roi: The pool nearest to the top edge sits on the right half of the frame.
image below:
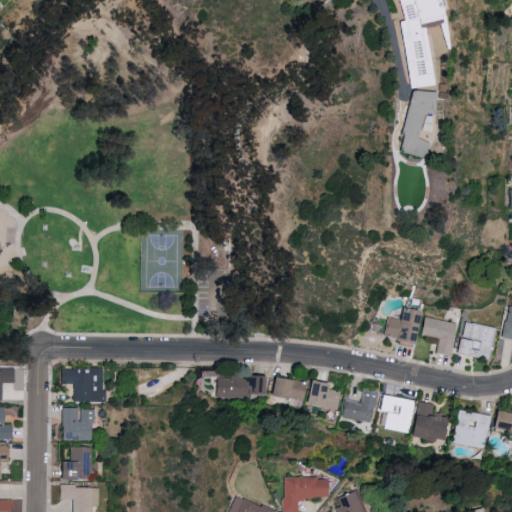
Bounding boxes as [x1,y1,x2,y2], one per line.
[380,298,404,316]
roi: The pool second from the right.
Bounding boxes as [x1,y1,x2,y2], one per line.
[454,446,475,458]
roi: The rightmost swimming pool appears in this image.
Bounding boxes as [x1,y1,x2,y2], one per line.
[490,436,508,456]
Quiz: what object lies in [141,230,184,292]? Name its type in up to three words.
basketball court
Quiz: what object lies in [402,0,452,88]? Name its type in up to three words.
building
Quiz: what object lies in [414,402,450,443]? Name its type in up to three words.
house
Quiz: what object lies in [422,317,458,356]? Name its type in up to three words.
house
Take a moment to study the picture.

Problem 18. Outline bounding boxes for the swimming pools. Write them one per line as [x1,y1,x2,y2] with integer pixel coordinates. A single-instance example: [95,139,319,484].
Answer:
[490,436,508,456]
[454,446,475,458]
[380,298,404,316]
